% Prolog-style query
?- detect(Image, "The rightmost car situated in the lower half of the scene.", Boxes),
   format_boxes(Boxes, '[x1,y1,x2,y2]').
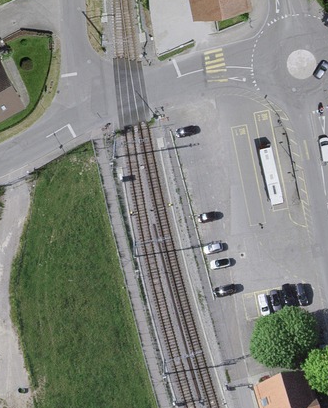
[296,282,308,305]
